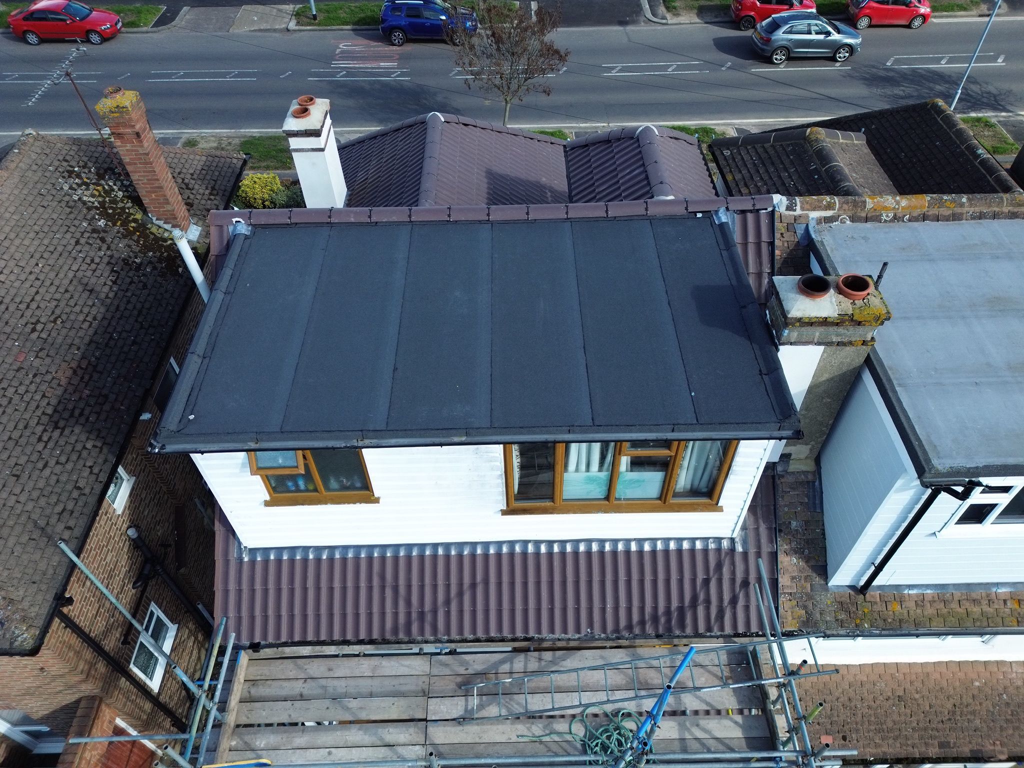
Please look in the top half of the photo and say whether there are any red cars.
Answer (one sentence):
Yes, I can see a red car in the top half of the photo.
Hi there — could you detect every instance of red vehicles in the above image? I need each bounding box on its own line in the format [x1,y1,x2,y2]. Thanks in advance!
[844,0,933,29]
[6,0,125,45]
[728,0,820,29]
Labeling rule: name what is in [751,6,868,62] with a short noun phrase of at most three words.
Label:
car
